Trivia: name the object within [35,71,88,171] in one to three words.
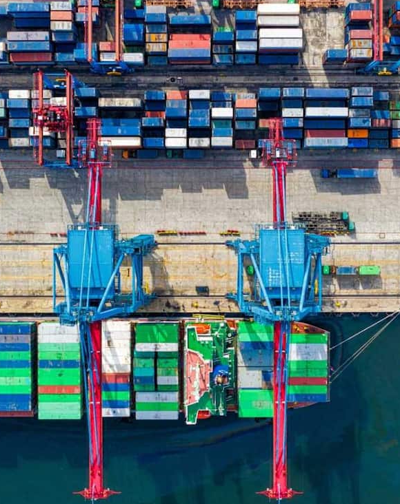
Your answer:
container crane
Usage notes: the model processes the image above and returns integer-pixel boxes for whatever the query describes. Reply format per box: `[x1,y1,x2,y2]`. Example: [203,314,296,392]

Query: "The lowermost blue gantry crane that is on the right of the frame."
[219,118,326,501]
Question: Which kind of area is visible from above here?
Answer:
port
